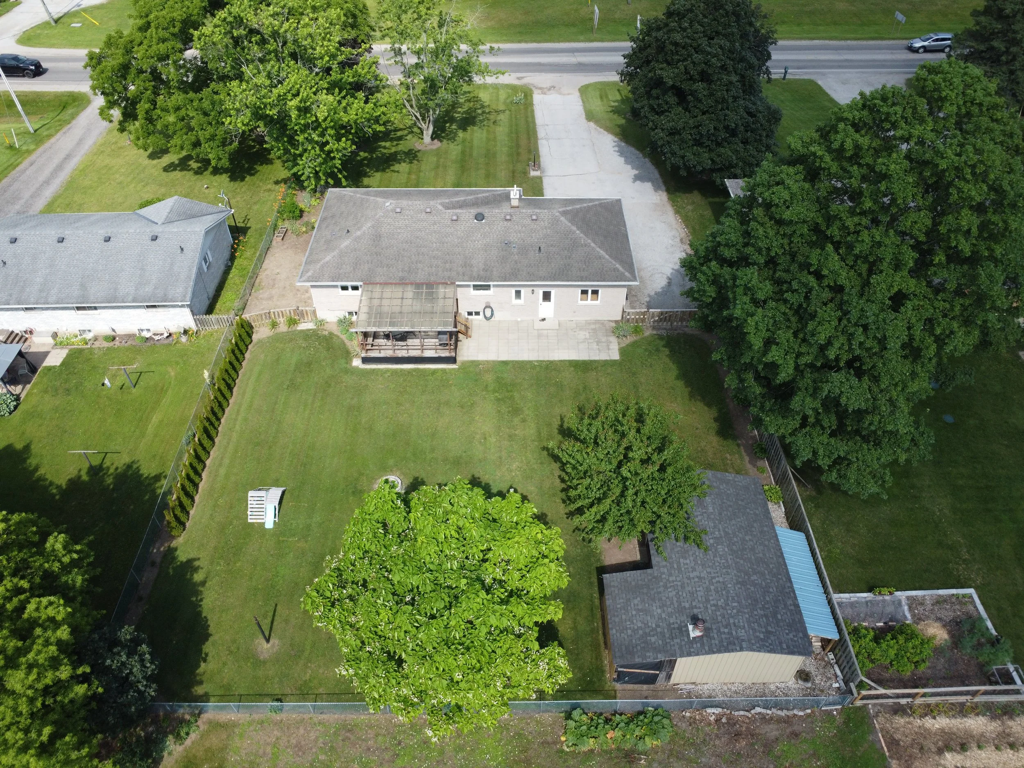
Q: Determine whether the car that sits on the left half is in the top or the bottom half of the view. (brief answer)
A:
top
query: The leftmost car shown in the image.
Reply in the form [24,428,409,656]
[0,51,39,78]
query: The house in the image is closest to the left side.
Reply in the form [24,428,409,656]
[0,193,239,330]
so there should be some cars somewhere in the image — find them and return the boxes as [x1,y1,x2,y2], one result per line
[0,51,39,78]
[906,27,961,51]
